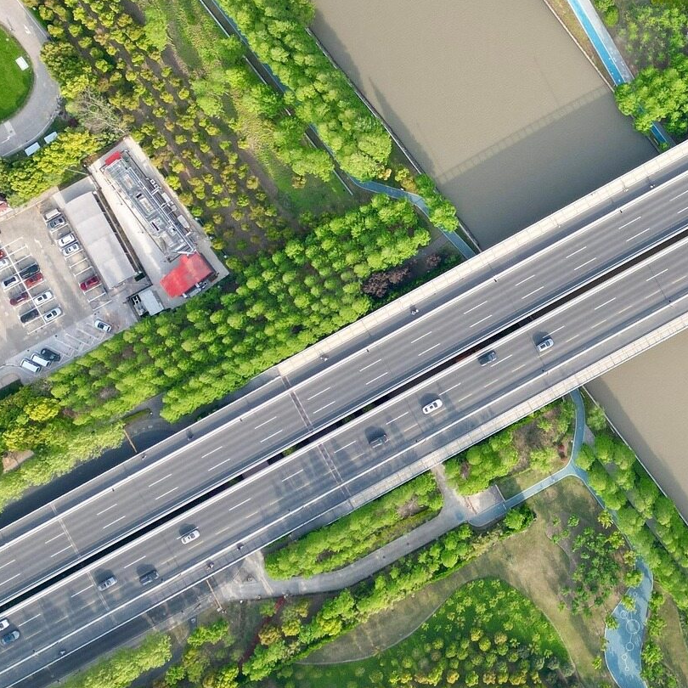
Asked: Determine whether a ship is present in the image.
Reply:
No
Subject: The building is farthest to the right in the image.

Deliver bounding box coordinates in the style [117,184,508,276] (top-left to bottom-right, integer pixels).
[161,250,223,297]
